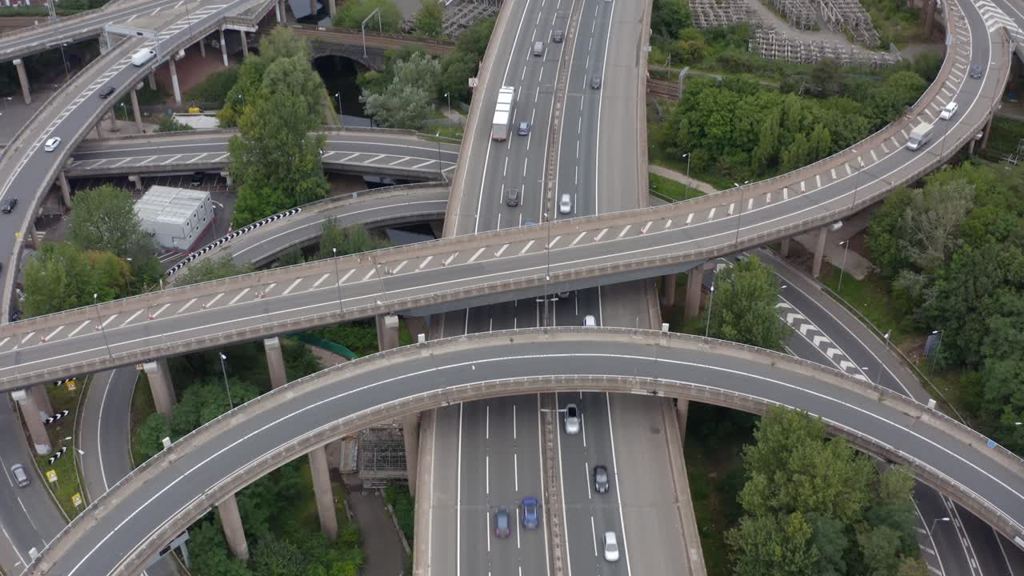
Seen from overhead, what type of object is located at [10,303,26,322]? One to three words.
car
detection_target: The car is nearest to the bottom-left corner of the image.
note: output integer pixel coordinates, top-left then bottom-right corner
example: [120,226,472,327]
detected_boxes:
[10,463,31,489]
